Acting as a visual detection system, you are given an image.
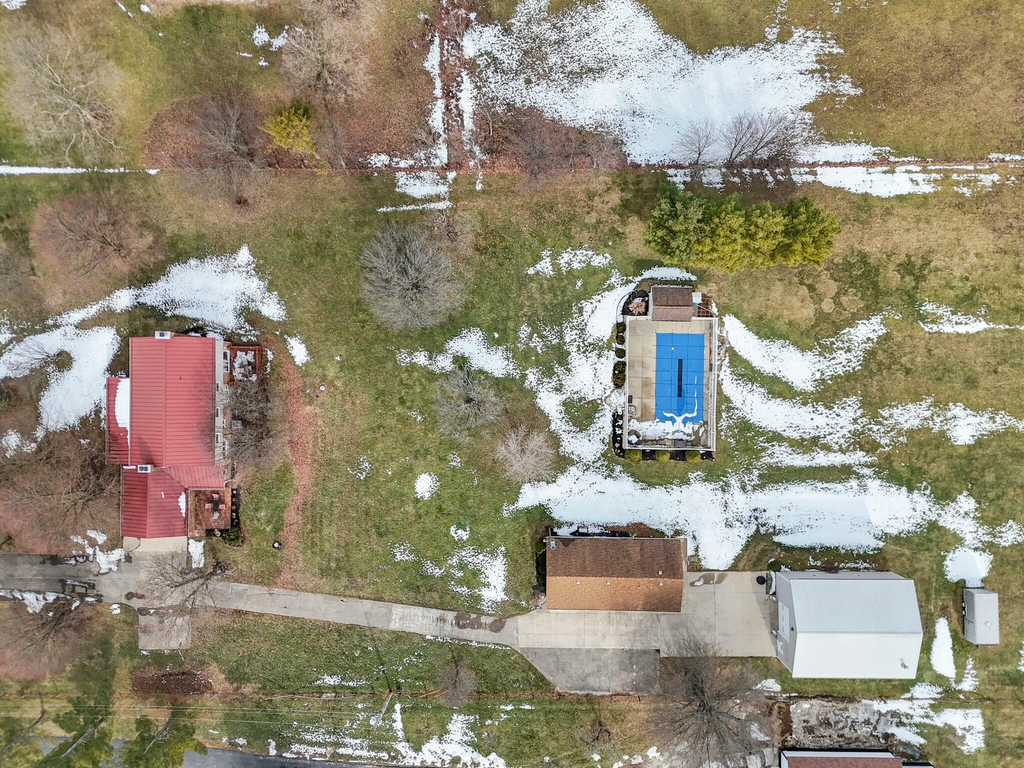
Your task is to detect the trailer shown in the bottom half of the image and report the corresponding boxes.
[961,589,999,647]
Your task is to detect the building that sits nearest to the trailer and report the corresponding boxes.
[775,572,923,678]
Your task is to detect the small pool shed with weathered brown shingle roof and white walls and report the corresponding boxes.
[649,286,695,321]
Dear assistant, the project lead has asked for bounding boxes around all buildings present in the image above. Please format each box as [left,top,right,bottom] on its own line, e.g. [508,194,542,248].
[649,286,695,321]
[775,572,923,678]
[105,331,233,539]
[779,748,928,768]
[546,535,686,613]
